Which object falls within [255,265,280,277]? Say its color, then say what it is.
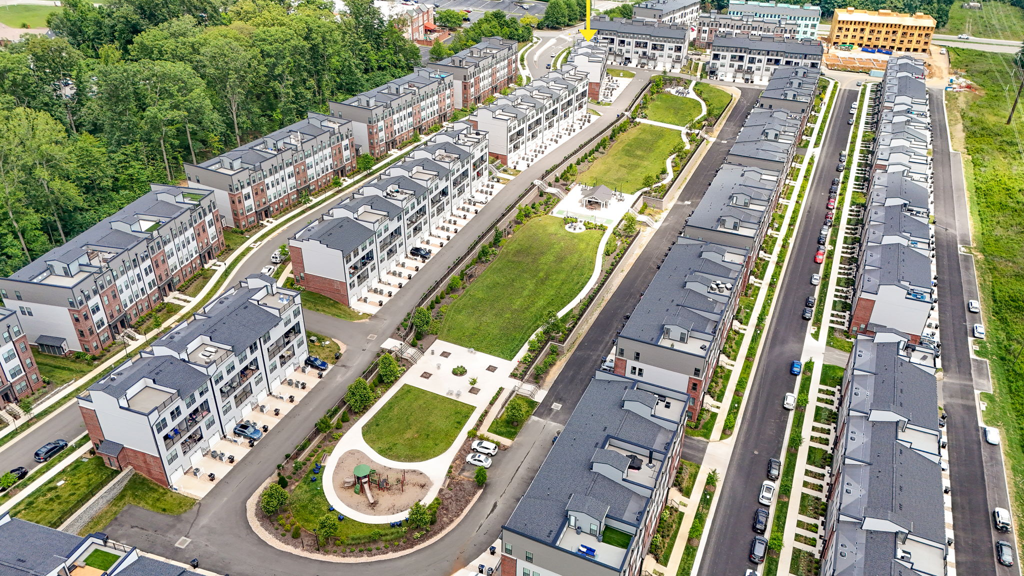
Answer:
white vehicle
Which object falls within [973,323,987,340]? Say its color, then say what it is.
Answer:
white car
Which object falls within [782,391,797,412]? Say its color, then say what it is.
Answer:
white car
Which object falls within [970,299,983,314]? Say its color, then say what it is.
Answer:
white vehicle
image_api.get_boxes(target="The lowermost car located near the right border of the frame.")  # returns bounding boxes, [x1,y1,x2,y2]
[999,540,1020,571]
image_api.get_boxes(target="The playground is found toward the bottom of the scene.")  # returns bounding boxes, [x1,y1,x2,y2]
[348,471,405,505]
